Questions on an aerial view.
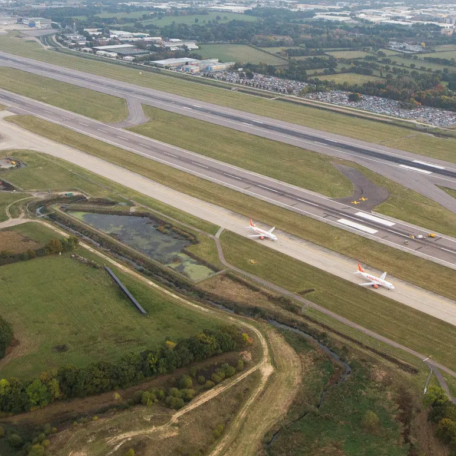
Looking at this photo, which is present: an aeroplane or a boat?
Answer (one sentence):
There is an aeroplane in the scene.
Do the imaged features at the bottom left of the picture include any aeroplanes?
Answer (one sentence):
No, the scene shows no aeroplane at the bottom left of the picture.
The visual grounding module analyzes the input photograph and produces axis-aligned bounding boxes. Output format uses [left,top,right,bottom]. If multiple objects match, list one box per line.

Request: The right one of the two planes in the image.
[356,261,394,286]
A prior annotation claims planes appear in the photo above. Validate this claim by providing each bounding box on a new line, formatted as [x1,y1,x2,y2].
[356,261,394,286]
[242,215,275,236]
